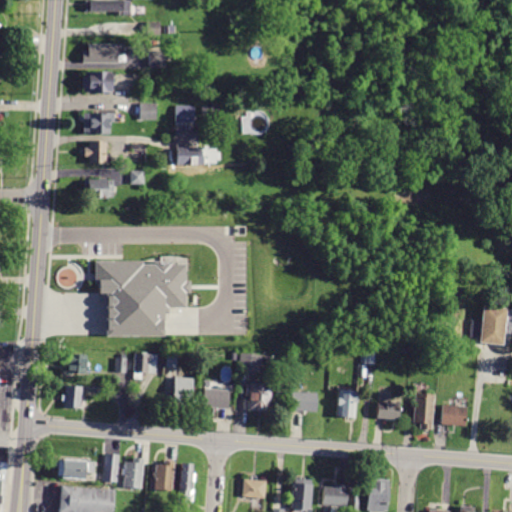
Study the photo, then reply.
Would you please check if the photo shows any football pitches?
No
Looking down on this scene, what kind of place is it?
residential area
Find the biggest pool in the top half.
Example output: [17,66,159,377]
[251,115,268,132]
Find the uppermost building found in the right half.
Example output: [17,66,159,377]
[482,308,510,347]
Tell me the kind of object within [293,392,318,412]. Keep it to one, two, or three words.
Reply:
house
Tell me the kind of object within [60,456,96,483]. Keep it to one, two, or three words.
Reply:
house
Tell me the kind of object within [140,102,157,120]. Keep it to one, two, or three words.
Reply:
building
